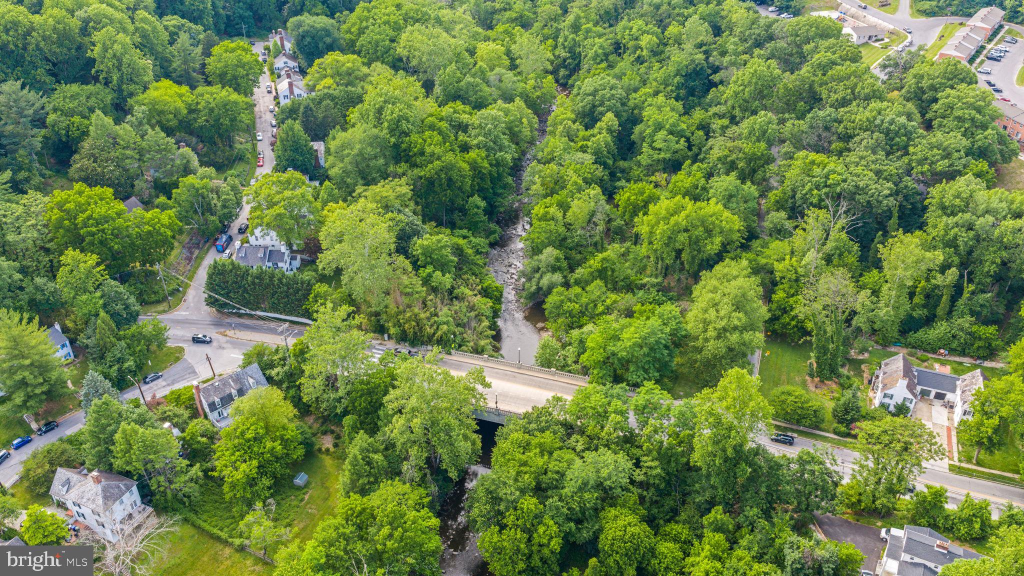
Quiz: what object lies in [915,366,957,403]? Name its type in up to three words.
building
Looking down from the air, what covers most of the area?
trees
